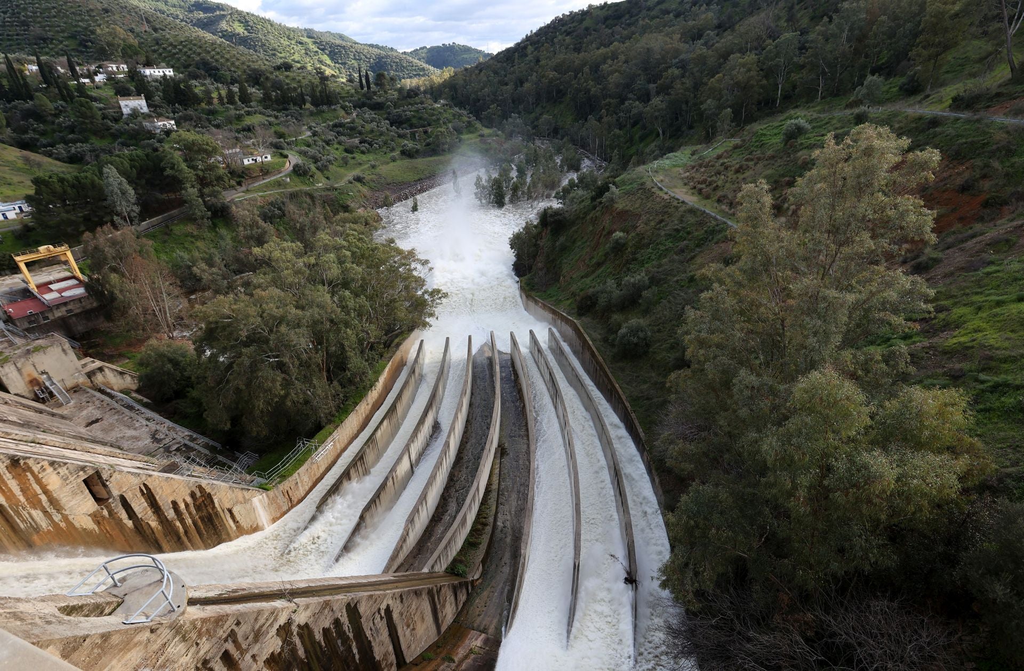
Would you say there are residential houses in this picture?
Yes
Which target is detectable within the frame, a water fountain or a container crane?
container crane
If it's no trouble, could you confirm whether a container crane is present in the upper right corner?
No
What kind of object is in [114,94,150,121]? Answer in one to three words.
house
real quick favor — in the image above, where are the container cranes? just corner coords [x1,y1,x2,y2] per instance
[9,242,85,295]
